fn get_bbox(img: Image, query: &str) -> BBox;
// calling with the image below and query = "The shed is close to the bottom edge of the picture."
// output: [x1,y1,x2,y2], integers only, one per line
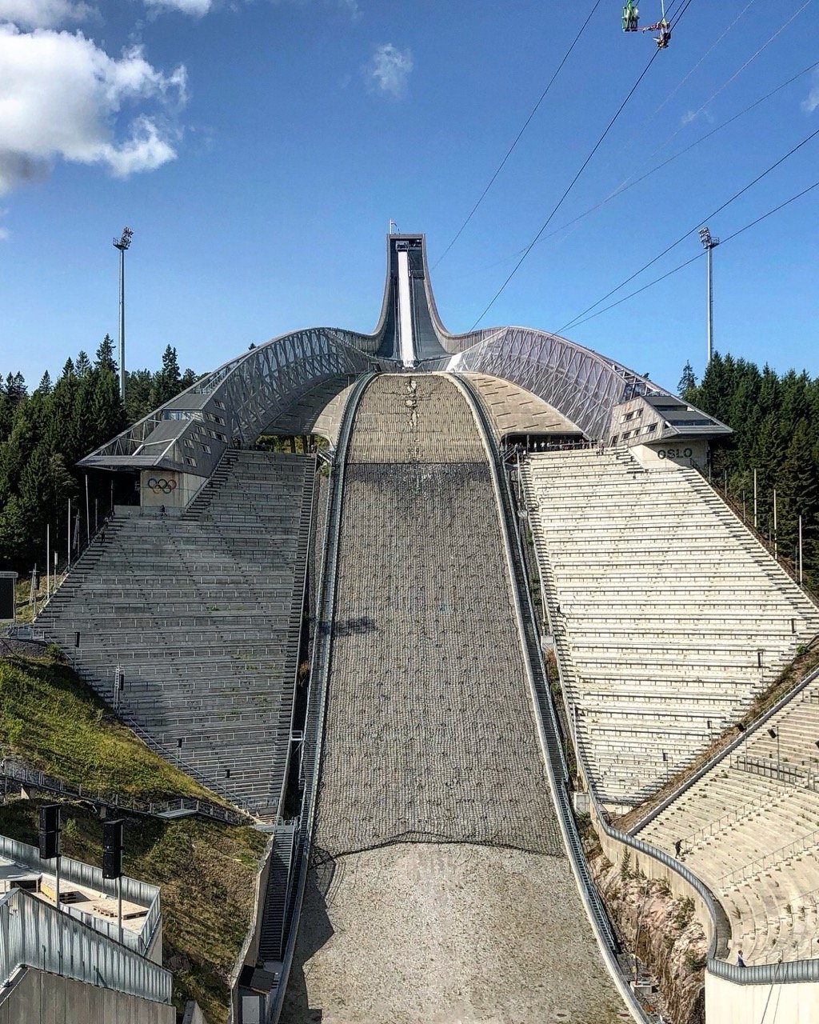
[238,968,271,1024]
